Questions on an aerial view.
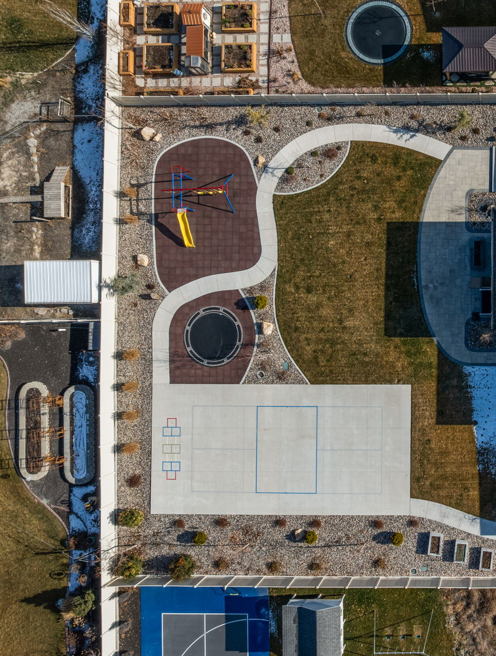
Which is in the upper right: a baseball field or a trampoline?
trampoline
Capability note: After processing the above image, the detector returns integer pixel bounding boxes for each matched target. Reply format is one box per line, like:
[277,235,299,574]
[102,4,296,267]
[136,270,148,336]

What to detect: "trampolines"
[182,307,243,367]
[346,0,410,65]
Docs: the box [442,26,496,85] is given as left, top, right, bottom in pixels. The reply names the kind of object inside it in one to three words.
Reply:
gazebo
